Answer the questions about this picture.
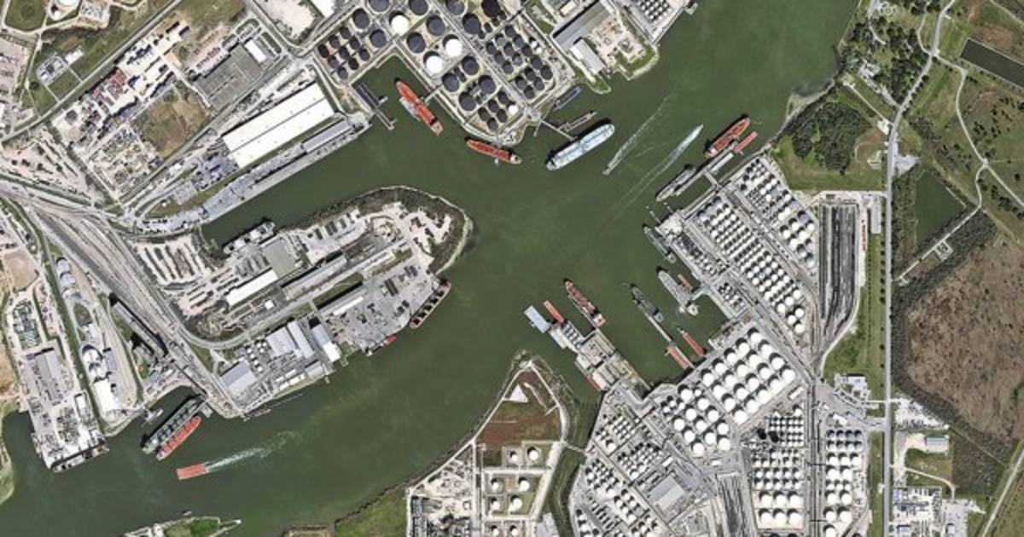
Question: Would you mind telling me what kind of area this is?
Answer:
port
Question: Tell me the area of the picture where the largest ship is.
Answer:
top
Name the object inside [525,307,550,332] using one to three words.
ship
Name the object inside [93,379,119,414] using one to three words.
building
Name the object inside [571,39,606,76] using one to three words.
building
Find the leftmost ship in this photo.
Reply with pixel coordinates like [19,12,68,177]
[53,449,109,472]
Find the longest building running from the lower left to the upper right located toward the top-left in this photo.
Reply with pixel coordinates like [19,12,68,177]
[222,82,337,170]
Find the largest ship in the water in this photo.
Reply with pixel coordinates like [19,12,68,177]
[545,122,614,171]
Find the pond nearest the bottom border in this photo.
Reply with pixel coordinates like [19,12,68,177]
[916,174,965,243]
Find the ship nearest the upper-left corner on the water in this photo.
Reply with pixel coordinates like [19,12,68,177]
[224,221,276,253]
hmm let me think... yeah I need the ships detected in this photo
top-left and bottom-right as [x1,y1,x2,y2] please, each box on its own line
[645,227,670,256]
[657,270,691,312]
[53,449,109,472]
[565,281,605,328]
[525,307,550,332]
[410,281,451,327]
[667,343,688,369]
[224,221,276,253]
[156,418,200,460]
[657,166,697,200]
[141,399,201,452]
[396,81,443,135]
[734,133,757,151]
[705,117,750,158]
[683,333,704,356]
[563,113,591,130]
[711,153,735,172]
[177,468,206,478]
[467,139,521,163]
[176,464,205,474]
[553,87,581,112]
[545,301,563,324]
[545,122,614,171]
[356,88,378,109]
[399,97,421,122]
[631,286,664,324]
